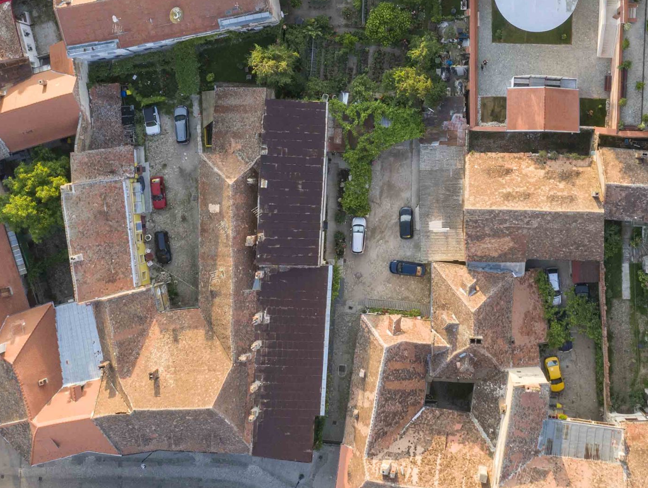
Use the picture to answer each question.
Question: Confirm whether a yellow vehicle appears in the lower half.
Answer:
Yes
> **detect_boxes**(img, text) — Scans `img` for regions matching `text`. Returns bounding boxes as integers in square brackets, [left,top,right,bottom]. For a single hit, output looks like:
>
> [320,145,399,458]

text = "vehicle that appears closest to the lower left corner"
[152,228,171,268]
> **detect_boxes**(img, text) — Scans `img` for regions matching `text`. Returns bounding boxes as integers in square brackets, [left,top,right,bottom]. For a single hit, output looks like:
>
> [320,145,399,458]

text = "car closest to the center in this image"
[350,218,367,255]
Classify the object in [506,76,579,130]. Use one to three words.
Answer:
building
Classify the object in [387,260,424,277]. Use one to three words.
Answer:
car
